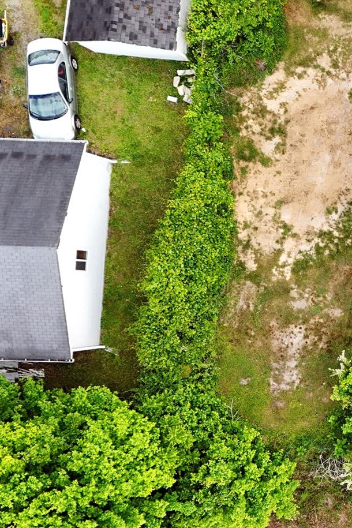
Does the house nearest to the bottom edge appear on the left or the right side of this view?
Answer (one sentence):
You can find the house nearest to the bottom edge on the left side of the picture.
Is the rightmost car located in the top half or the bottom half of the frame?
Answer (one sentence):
The rightmost car sits in the top half of the picture.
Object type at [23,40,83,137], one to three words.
car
